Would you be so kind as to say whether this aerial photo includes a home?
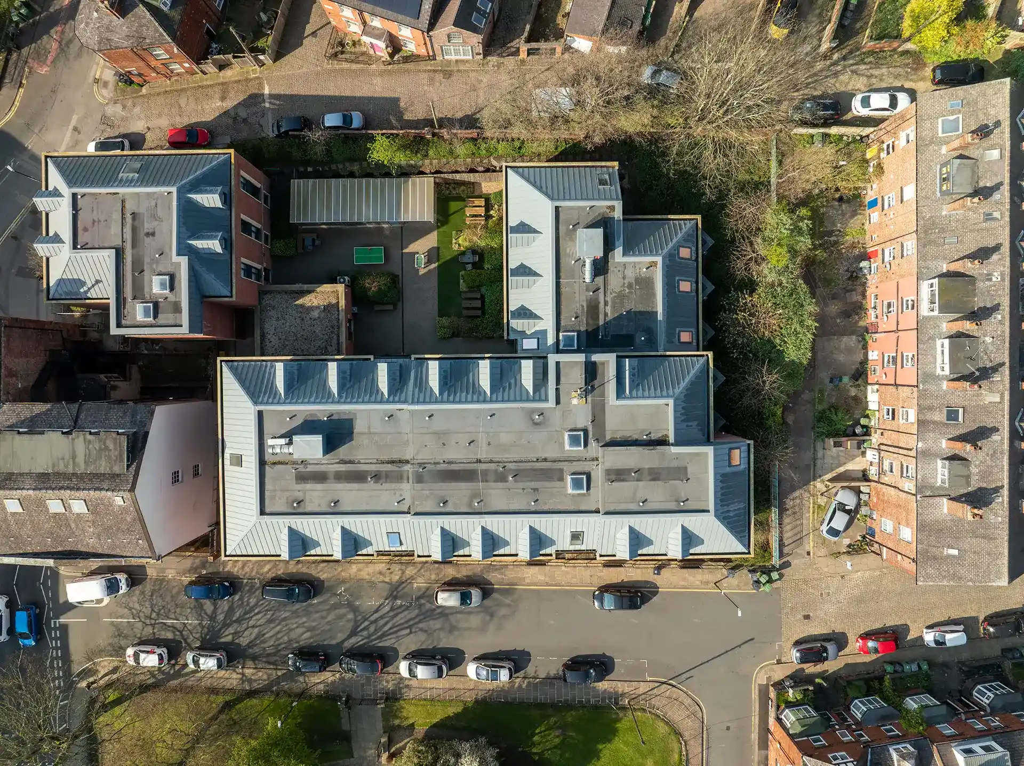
Yes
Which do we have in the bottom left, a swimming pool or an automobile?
automobile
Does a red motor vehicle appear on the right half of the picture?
Yes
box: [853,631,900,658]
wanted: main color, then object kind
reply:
red car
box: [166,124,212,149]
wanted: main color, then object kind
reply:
red car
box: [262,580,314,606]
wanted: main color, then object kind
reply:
black car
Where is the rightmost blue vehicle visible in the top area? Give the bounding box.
[320,108,366,130]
